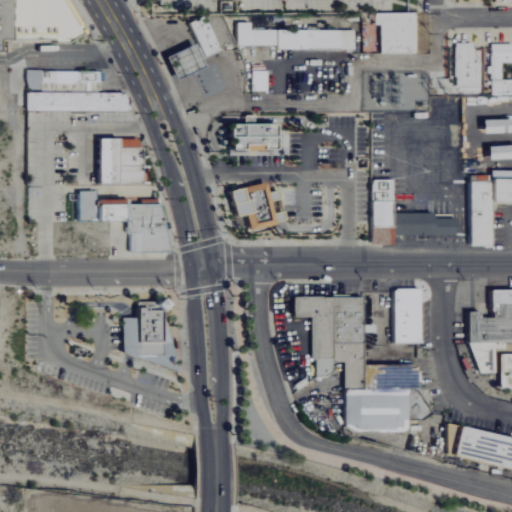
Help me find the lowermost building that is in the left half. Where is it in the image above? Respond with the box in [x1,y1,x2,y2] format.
[120,302,165,356]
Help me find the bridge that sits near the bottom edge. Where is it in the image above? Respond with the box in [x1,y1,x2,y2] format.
[190,427,240,512]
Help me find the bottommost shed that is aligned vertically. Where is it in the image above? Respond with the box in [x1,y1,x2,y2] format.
[444,424,458,454]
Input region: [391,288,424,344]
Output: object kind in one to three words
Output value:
building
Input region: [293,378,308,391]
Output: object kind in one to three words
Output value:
vehicle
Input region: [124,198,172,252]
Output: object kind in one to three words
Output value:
building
